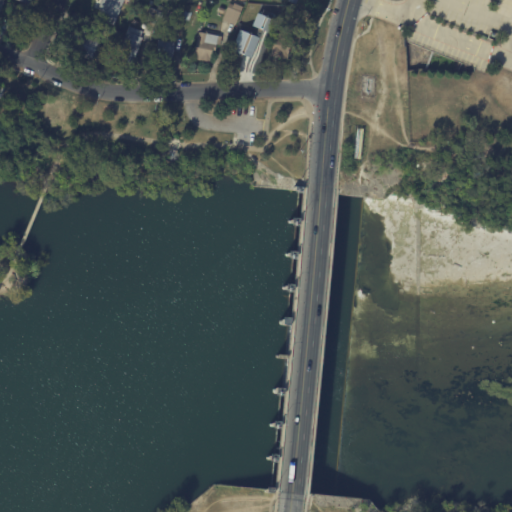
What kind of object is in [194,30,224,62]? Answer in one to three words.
house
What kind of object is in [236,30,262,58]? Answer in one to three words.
house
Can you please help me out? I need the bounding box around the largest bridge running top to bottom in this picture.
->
[276,187,338,494]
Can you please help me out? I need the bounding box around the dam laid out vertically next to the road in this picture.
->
[266,186,362,494]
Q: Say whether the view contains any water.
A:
Yes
